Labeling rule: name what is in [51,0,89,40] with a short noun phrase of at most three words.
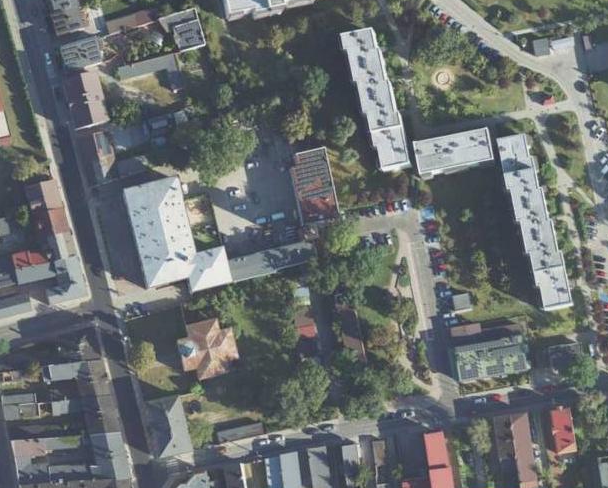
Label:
building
